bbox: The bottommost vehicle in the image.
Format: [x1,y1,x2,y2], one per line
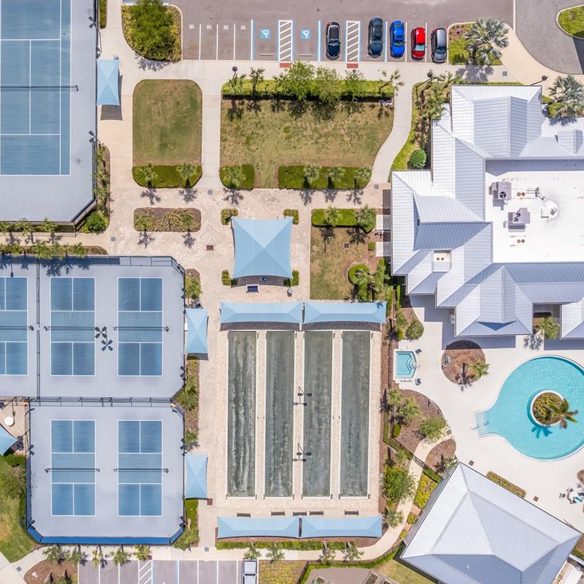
[241,560,257,584]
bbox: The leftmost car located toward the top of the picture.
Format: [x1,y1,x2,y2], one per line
[325,21,342,60]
